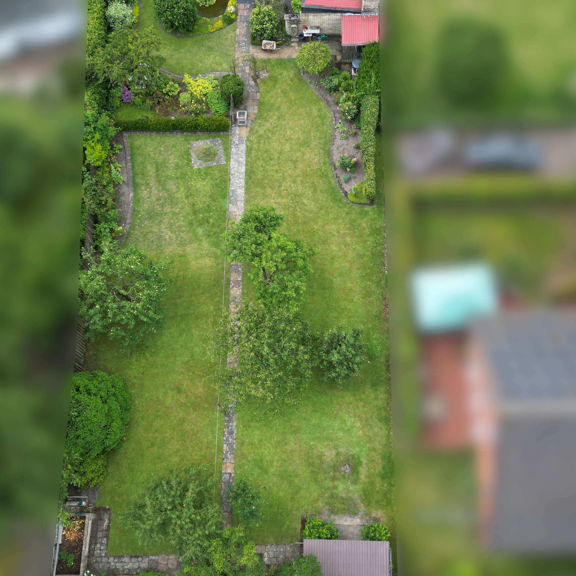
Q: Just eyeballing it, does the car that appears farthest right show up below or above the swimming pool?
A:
above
